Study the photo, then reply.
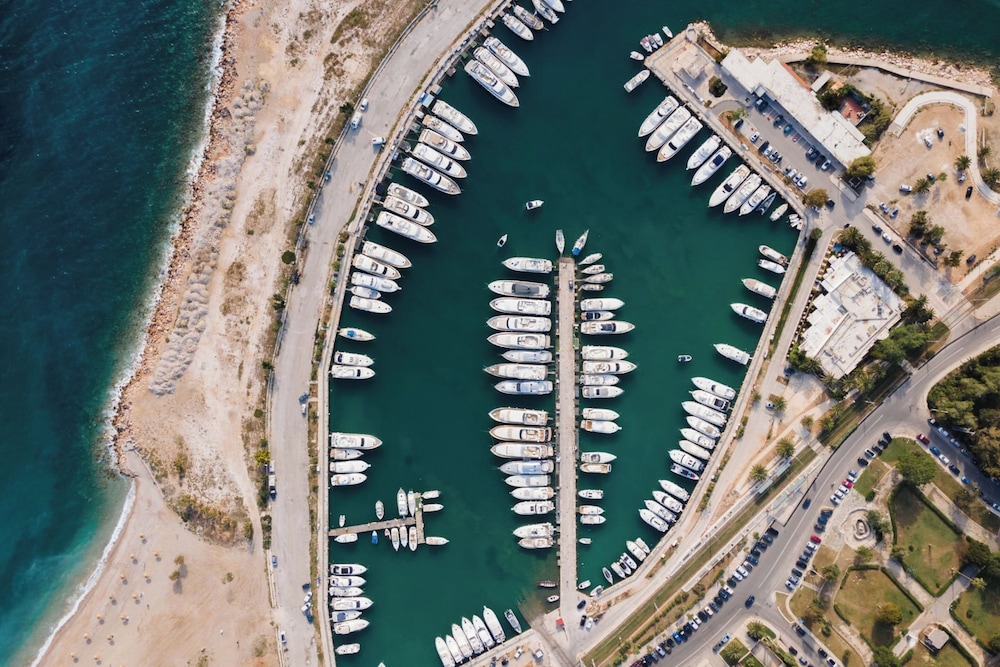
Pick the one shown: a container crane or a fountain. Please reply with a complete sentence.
Looking from above, you can make out a fountain.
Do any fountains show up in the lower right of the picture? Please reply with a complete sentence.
Yes, a fountain can be seen in the lower right of the picture.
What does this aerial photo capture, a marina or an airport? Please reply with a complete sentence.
The picture captures a marina.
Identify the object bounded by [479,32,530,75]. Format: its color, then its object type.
white boat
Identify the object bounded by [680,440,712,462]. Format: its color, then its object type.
white boat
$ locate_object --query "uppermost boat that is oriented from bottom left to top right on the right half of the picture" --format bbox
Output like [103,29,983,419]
[623,69,650,93]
